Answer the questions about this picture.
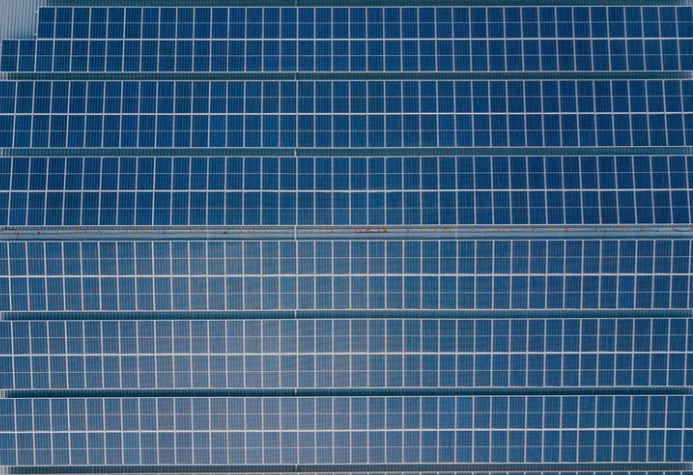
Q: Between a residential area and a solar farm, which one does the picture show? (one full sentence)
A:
This image shows a solar farm.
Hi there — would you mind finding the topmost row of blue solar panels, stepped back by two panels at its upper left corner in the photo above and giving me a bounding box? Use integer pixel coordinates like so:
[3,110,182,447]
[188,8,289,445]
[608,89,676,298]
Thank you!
[0,7,693,72]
